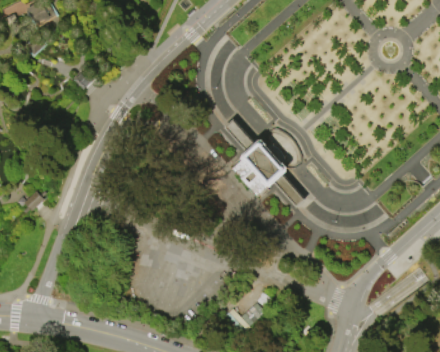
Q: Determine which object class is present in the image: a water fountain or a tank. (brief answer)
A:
water fountain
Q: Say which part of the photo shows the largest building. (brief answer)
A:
center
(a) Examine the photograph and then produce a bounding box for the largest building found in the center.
[235,140,287,193]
